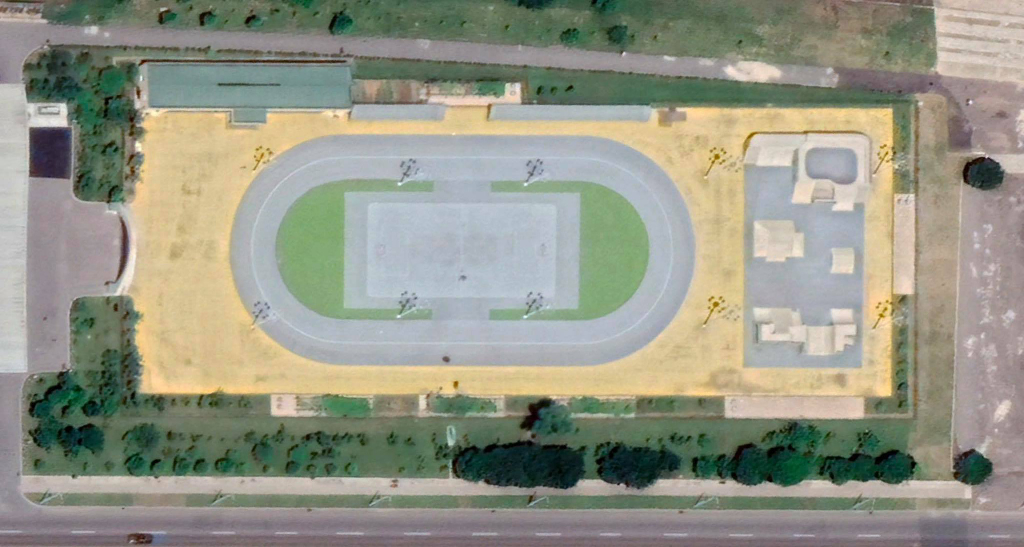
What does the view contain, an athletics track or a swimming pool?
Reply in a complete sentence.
I can see an athletics track in this picture.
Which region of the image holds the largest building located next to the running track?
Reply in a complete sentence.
The largest building located next to the running track is in the top left part of the image.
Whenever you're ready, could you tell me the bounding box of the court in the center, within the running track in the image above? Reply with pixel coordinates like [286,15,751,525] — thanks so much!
[368,203,557,297]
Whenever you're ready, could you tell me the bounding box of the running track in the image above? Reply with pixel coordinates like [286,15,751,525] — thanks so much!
[231,134,695,366]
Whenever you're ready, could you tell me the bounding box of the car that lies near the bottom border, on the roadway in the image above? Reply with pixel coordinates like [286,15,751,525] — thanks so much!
[128,533,152,545]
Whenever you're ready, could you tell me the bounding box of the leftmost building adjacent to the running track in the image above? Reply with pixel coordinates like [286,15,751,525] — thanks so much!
[133,62,352,126]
